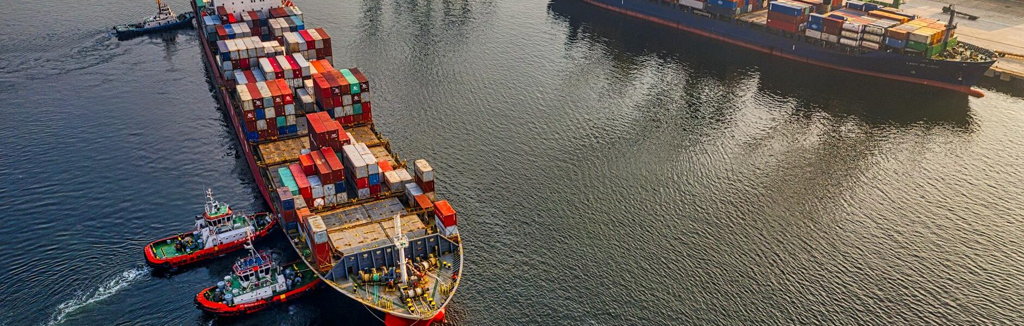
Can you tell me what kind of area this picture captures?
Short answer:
port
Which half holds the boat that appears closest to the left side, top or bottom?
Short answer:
top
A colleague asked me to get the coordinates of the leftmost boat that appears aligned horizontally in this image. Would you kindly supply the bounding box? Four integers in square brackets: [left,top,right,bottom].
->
[112,0,196,38]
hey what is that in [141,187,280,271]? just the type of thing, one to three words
boat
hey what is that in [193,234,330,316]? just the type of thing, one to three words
boat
